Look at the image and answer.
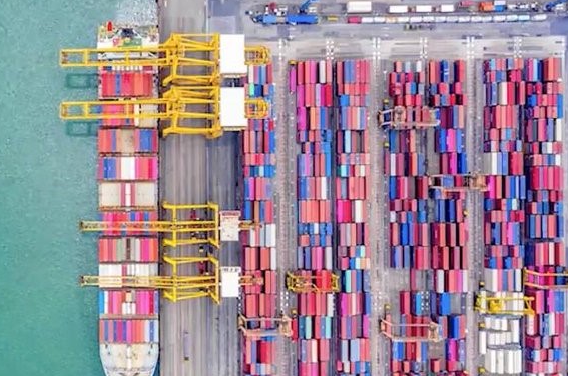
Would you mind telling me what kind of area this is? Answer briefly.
port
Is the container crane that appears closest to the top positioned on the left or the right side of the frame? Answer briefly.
left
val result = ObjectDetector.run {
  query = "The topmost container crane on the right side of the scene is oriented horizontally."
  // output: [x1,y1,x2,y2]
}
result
[378,107,441,129]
